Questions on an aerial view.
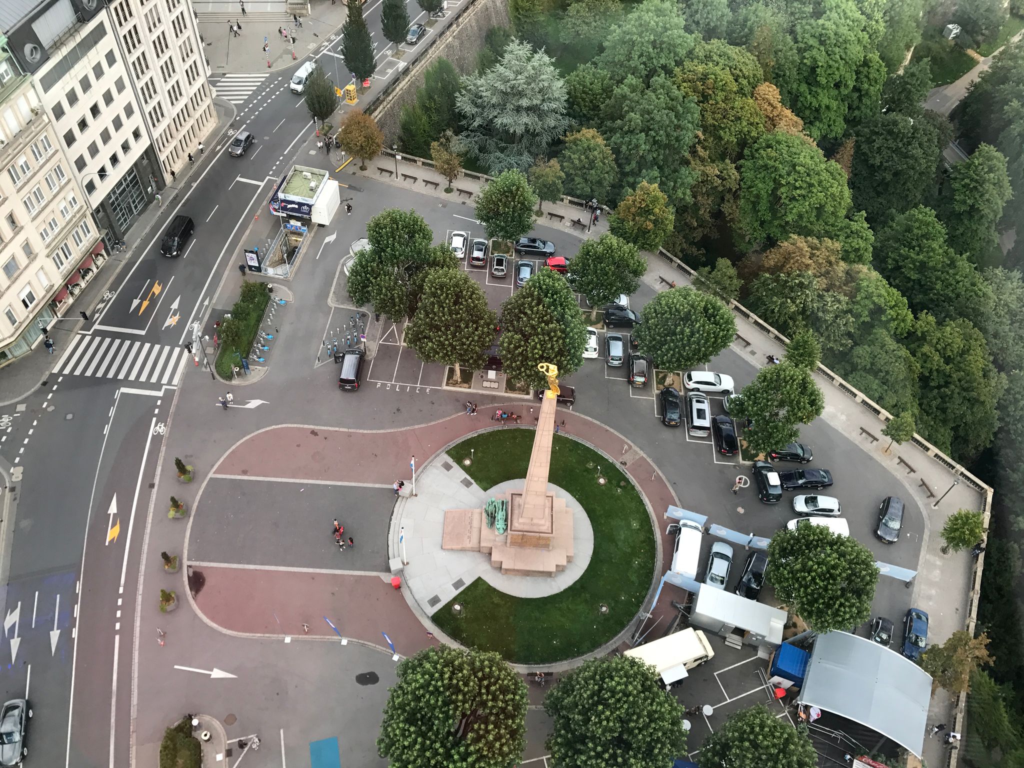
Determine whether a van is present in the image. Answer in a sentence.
Yes, looking at the shot, I can spot a van.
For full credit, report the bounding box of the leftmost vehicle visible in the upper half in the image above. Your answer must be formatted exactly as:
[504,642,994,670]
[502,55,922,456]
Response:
[163,214,197,258]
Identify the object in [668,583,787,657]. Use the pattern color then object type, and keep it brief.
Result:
white trailer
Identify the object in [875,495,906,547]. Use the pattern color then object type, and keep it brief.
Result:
gray car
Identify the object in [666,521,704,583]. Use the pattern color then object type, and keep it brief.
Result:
white van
